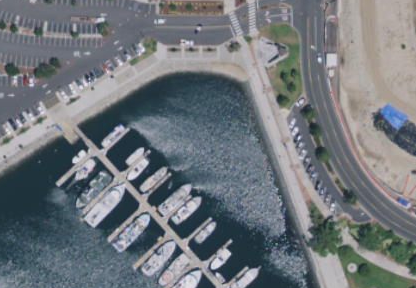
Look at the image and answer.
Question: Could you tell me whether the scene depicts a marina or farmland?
marina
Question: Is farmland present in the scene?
No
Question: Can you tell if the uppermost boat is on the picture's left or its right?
left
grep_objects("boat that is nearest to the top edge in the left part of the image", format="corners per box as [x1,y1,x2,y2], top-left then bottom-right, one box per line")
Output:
[100,126,125,148]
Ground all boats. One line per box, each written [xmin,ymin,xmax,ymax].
[82,184,130,227]
[76,169,116,208]
[216,274,226,284]
[210,248,234,270]
[78,148,88,157]
[74,160,94,182]
[140,242,180,277]
[139,168,167,194]
[126,158,150,179]
[174,271,203,288]
[112,216,151,253]
[171,198,201,226]
[100,126,125,148]
[125,146,144,165]
[193,222,218,244]
[230,266,260,288]
[157,184,192,216]
[156,251,192,284]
